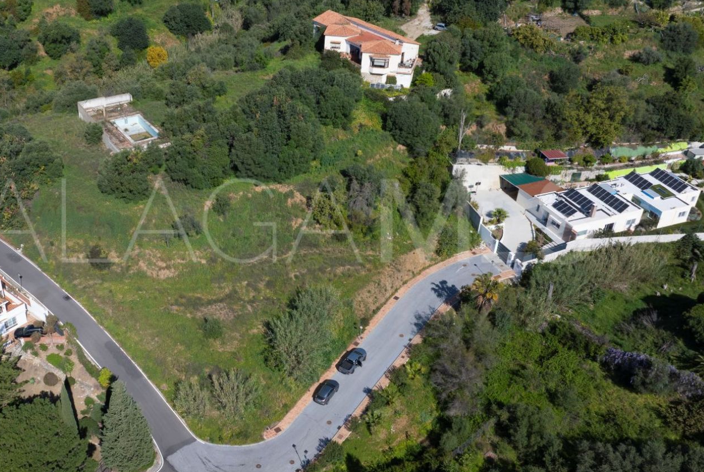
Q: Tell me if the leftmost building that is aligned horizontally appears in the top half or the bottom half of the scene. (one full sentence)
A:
The leftmost building that is aligned horizontally sits in the top half of the picture.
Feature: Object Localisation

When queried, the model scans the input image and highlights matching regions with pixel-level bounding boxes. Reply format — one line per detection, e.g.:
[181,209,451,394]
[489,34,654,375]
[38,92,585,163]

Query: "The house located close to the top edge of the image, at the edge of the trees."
[312,9,426,79]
